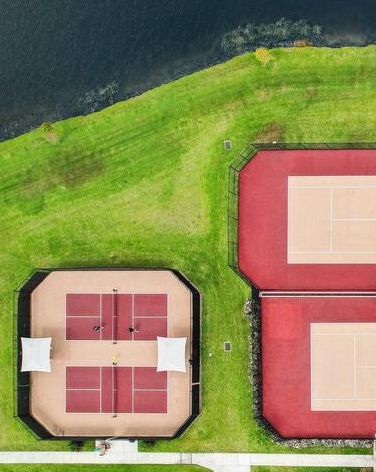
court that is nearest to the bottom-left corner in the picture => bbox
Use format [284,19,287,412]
[65,366,167,413]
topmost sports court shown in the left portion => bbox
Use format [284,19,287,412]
[65,293,167,340]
